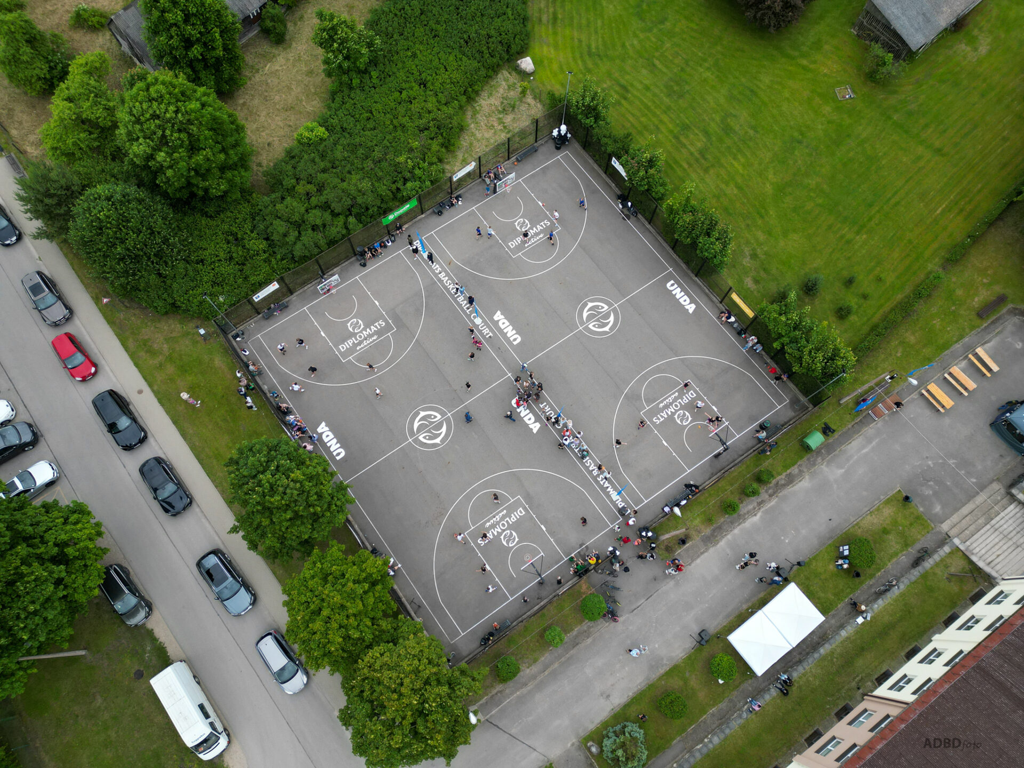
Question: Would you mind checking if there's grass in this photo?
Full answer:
Yes, the picture does contain grass.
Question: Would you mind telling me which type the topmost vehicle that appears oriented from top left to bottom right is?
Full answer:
I'd say the topmost vehicle that appears oriented from top left to bottom right is an automobile.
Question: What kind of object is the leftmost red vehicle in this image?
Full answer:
In the photo, the leftmost red vehicle shows up as an automobile.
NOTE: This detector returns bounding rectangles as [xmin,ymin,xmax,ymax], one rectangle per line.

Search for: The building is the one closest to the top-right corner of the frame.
[856,0,962,60]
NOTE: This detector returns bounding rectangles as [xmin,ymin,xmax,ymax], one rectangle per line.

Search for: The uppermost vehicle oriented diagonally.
[18,268,71,326]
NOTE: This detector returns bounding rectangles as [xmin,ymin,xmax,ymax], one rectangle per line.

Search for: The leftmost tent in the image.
[719,583,825,676]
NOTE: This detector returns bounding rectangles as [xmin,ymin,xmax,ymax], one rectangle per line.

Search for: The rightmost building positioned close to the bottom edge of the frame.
[785,580,1024,768]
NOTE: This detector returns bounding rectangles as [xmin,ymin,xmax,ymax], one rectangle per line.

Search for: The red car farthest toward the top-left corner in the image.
[50,332,98,380]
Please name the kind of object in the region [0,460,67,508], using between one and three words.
car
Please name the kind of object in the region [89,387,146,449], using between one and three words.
car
